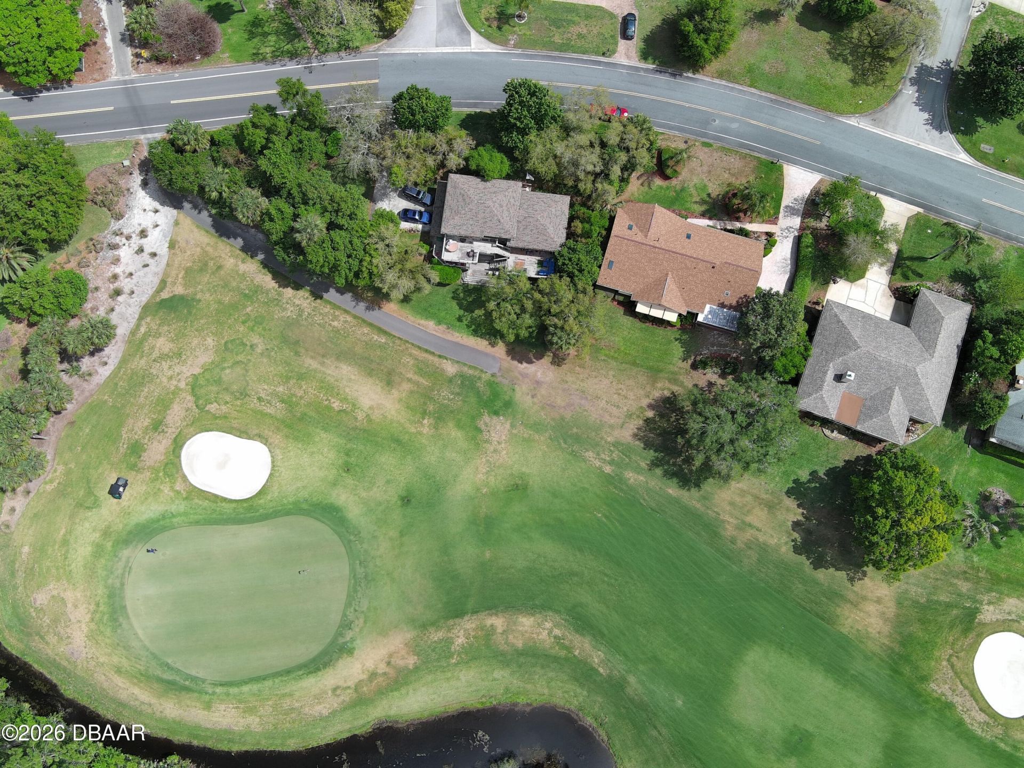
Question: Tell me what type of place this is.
golf course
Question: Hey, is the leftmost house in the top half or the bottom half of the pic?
top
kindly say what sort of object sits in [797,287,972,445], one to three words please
house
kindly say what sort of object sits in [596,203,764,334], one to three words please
house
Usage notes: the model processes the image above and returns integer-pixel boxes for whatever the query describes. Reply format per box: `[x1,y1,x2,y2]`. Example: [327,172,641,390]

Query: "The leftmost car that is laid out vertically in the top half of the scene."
[623,13,636,41]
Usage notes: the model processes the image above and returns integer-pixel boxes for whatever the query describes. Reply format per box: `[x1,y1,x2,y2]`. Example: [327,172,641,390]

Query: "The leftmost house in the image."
[430,174,570,253]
